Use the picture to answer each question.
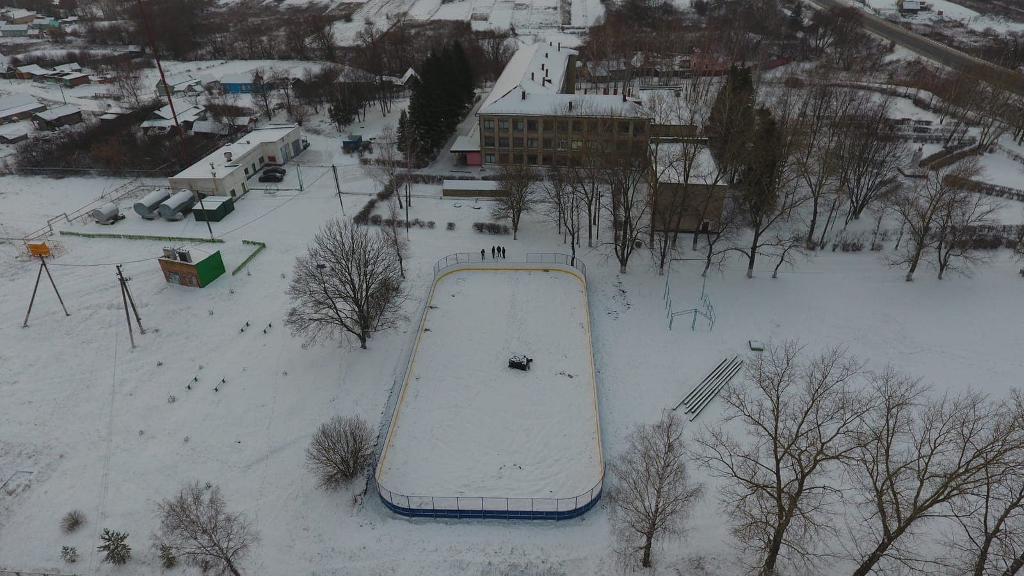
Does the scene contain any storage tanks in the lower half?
No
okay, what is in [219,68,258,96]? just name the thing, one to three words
house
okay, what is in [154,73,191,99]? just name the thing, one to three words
house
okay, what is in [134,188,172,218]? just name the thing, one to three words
storage tank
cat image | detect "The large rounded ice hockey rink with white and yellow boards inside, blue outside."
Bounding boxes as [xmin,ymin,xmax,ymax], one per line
[378,262,602,521]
